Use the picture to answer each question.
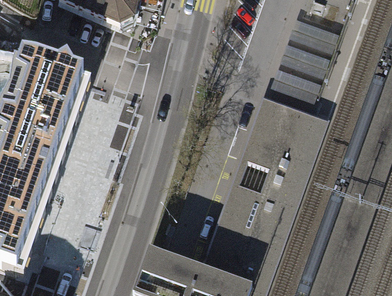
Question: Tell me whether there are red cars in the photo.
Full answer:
Yes, there's a red car here.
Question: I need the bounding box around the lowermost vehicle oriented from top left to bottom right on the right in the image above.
[230,19,250,38]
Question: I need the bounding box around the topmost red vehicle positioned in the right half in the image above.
[236,6,256,26]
